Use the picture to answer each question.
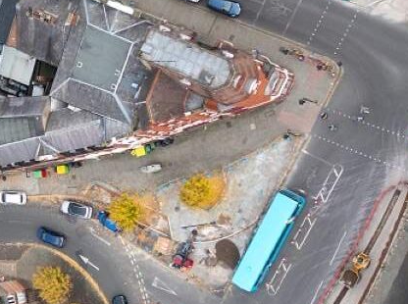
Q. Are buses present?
Yes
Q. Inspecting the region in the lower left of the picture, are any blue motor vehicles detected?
Yes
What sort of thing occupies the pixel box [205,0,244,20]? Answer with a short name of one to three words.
car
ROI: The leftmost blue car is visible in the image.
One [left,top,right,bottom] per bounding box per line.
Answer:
[37,226,67,246]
